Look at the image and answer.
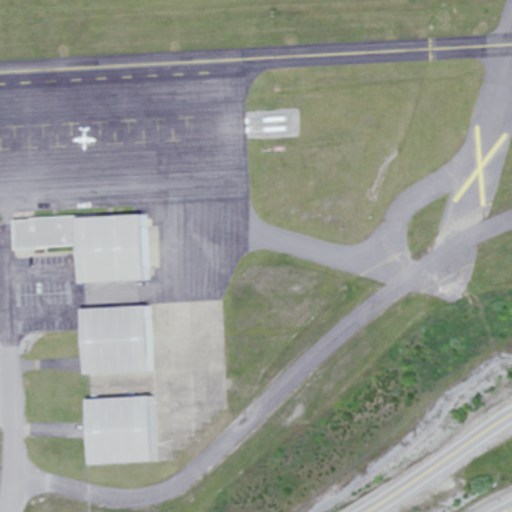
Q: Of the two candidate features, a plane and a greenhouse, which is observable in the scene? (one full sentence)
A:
The one in the frame is a plane.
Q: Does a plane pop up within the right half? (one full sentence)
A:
No, the scene shows no plane within the right half.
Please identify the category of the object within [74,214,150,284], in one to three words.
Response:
hangar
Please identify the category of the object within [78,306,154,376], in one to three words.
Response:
hangar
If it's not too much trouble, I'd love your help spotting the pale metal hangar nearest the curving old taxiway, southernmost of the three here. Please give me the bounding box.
[83,396,158,466]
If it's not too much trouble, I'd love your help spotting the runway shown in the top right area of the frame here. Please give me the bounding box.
[386,0,512,249]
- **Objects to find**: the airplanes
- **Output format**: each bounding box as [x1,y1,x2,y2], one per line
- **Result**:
[72,126,96,151]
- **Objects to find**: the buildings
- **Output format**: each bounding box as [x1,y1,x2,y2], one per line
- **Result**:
[83,396,158,466]
[74,214,150,284]
[78,306,154,376]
